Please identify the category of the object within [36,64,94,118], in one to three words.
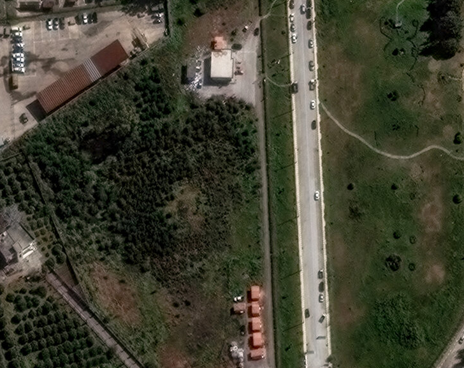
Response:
shed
